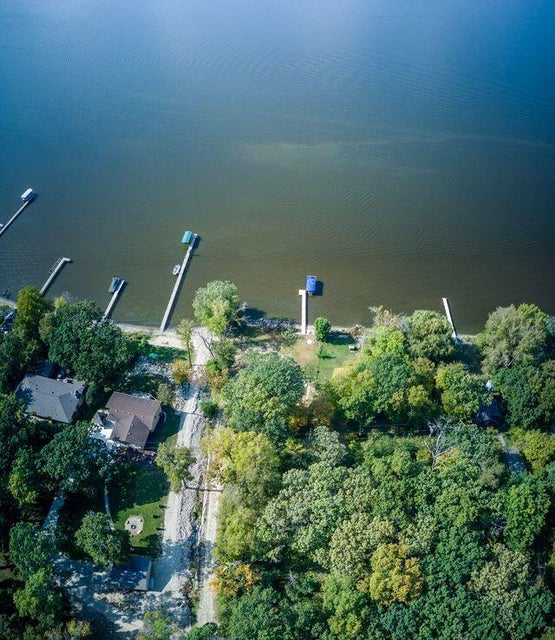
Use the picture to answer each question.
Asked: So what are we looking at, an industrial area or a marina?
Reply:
marina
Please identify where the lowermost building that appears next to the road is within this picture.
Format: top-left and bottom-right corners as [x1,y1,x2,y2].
[114,554,152,591]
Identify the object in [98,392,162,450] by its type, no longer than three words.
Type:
house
